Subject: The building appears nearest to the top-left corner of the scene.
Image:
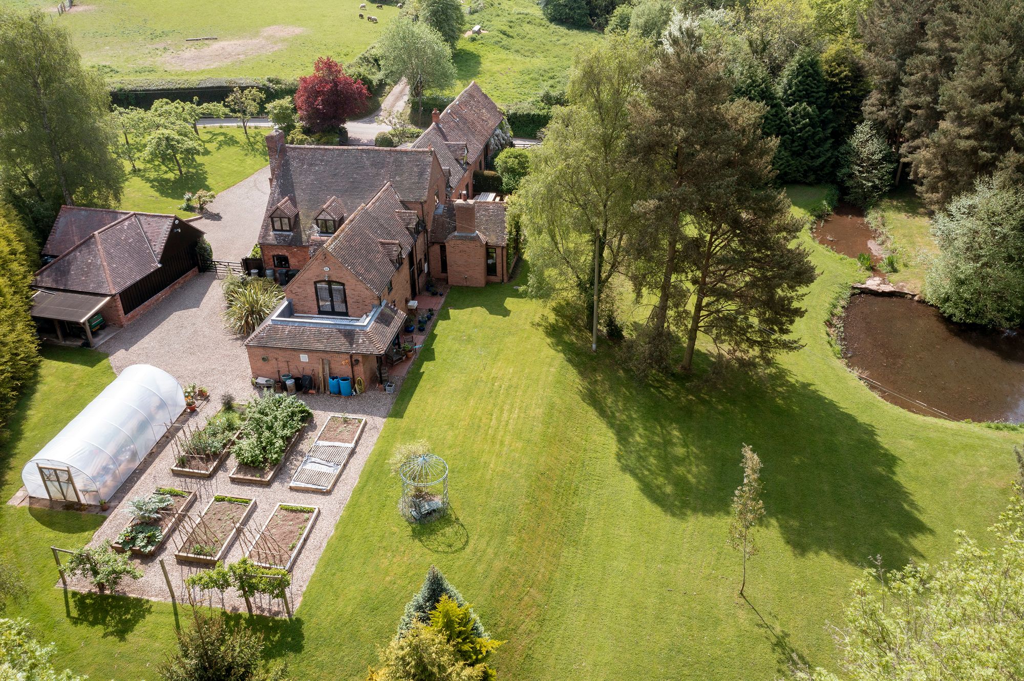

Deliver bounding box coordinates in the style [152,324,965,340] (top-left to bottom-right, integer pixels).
[29,203,207,348]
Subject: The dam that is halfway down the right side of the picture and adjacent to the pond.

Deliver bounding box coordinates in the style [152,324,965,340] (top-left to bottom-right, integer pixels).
[851,276,921,301]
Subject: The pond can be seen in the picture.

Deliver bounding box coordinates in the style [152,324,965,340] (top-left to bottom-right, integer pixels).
[841,296,1024,422]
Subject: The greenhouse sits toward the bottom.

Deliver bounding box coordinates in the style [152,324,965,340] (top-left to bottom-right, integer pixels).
[20,370,184,503]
